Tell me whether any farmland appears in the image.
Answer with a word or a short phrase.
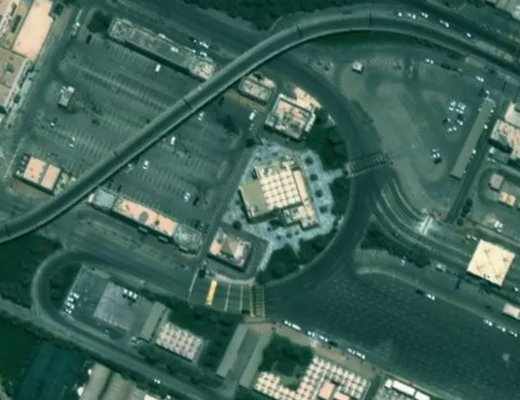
No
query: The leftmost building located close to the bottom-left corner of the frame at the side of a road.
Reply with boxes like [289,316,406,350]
[19,343,81,400]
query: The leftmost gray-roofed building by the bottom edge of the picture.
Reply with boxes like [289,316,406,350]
[79,363,111,400]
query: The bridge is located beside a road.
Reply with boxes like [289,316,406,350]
[0,13,520,242]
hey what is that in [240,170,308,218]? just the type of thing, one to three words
building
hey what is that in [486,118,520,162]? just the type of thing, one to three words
house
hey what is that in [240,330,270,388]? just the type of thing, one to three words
shed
